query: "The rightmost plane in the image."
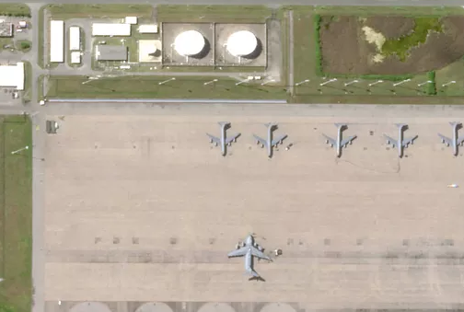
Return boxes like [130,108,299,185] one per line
[438,121,464,157]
